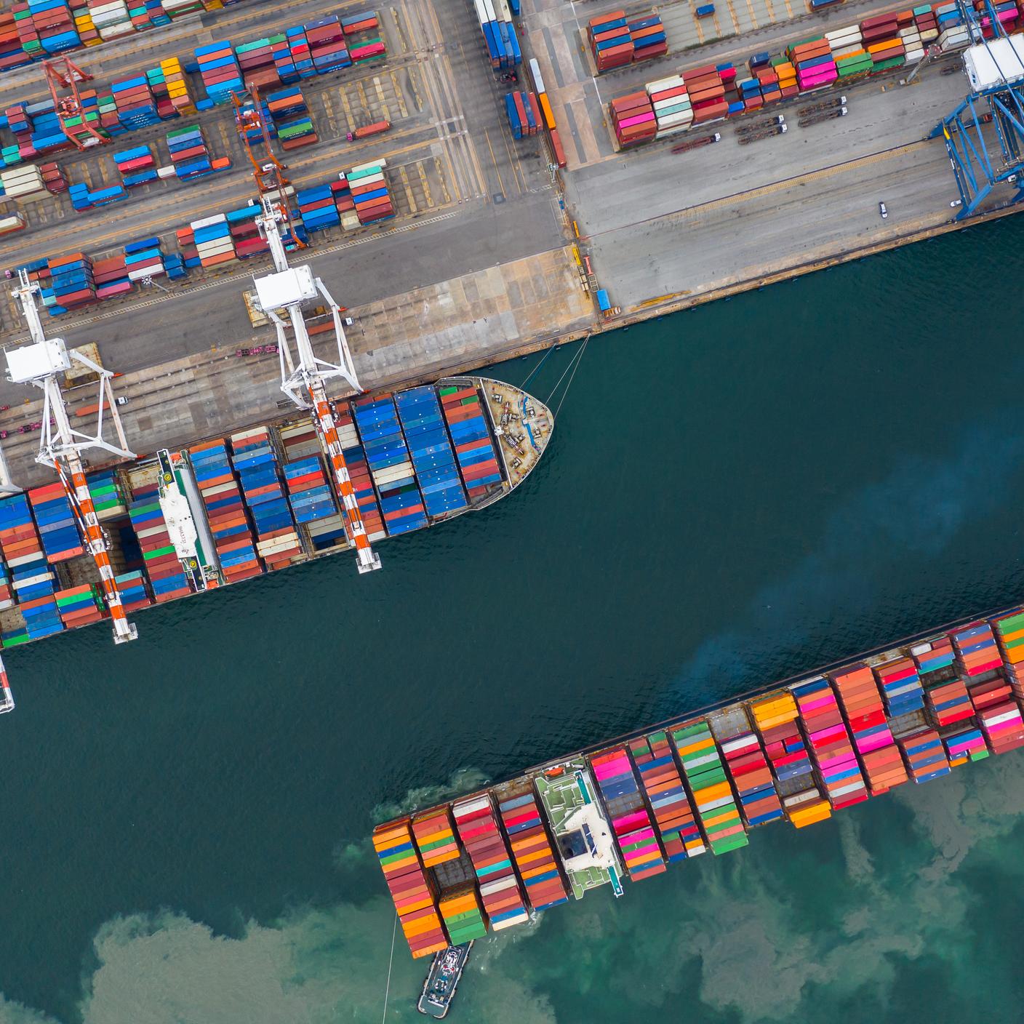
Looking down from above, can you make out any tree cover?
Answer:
No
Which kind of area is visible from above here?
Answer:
port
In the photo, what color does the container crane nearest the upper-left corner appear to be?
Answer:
red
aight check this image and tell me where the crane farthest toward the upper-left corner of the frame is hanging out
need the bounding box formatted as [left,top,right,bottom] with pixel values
[38,50,112,150]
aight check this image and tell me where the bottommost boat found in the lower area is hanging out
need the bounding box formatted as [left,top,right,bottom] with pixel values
[419,934,473,1022]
